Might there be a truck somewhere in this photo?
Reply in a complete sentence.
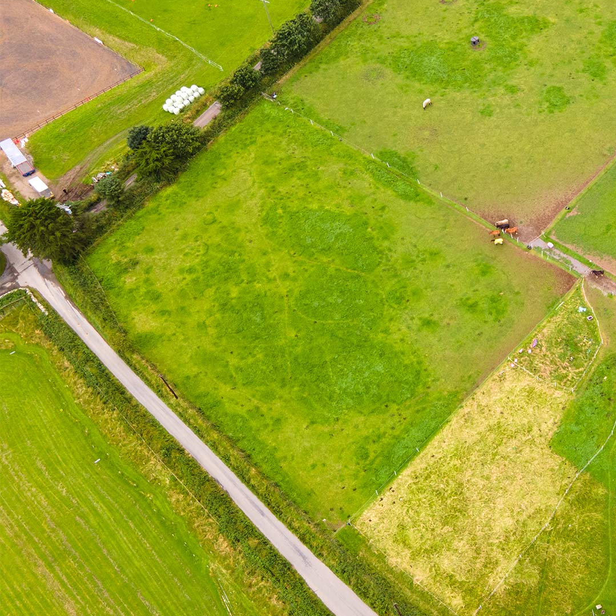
Yes, the frame does contain a truck.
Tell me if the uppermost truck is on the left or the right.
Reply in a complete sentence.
The uppermost truck is on the left side of the image.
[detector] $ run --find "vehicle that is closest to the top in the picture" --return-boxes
[0,139,37,180]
